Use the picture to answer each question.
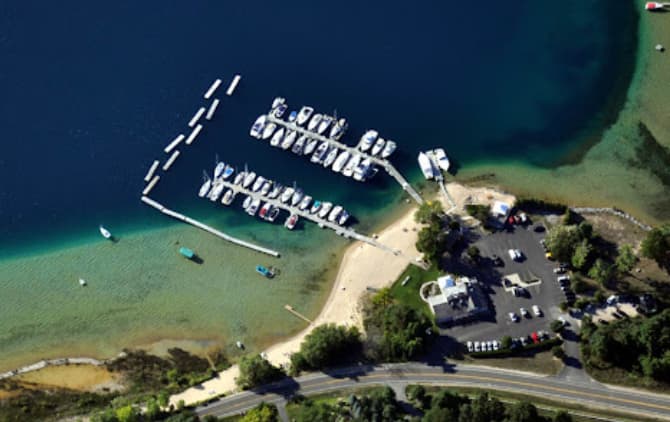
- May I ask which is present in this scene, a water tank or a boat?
boat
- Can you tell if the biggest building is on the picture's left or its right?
right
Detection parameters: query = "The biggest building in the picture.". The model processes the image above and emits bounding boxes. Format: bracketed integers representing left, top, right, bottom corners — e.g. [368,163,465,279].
[421,275,491,325]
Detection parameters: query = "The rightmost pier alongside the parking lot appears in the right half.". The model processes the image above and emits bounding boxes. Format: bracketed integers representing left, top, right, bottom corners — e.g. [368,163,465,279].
[426,149,454,214]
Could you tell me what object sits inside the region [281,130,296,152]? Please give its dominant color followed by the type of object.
white boat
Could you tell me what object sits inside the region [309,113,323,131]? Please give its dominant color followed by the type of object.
white boat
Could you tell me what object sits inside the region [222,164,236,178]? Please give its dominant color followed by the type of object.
blue boat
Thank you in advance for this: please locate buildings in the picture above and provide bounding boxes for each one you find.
[491,202,509,219]
[421,275,491,325]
